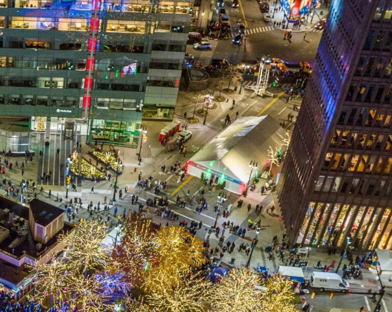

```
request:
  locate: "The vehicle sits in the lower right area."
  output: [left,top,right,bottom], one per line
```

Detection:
[311,270,353,295]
